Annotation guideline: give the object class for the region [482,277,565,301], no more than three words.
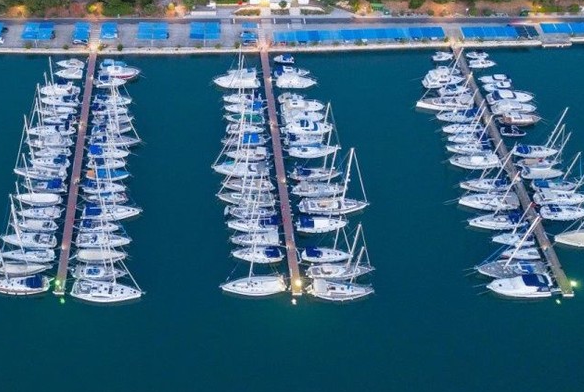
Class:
boat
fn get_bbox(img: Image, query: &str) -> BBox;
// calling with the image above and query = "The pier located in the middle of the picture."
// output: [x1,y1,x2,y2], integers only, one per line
[259,51,305,297]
